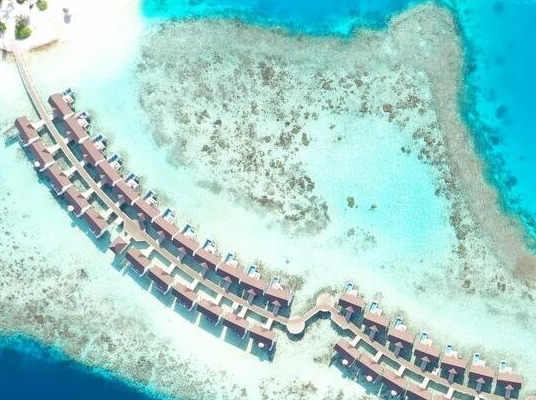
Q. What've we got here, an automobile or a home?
home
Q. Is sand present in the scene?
Yes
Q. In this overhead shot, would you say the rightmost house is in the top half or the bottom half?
bottom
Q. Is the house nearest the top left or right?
left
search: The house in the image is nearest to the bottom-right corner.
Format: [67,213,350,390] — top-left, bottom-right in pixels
[495,366,523,399]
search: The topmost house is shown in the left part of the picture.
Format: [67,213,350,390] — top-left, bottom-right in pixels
[47,93,77,124]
